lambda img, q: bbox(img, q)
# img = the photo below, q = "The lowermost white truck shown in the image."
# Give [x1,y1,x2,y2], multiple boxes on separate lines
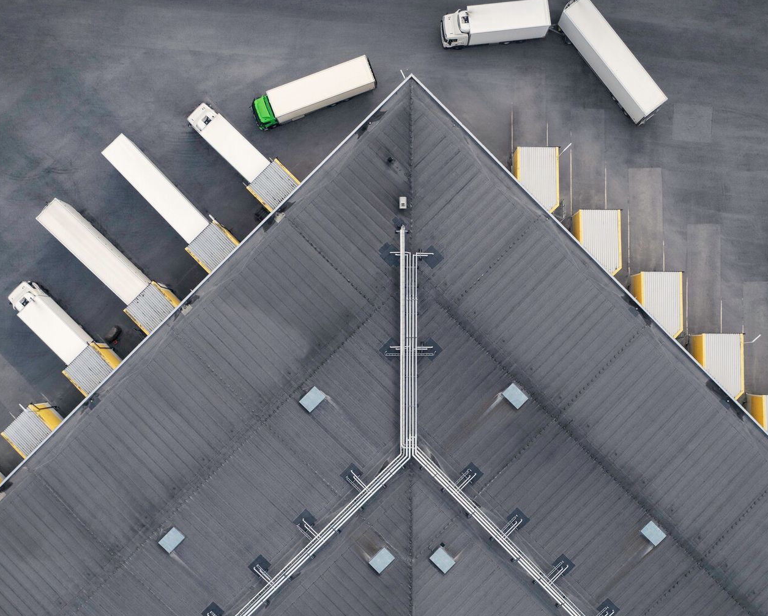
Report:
[7,279,96,364]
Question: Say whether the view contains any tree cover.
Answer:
No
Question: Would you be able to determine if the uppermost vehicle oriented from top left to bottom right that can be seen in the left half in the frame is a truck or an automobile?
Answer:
truck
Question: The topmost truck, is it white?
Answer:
Yes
